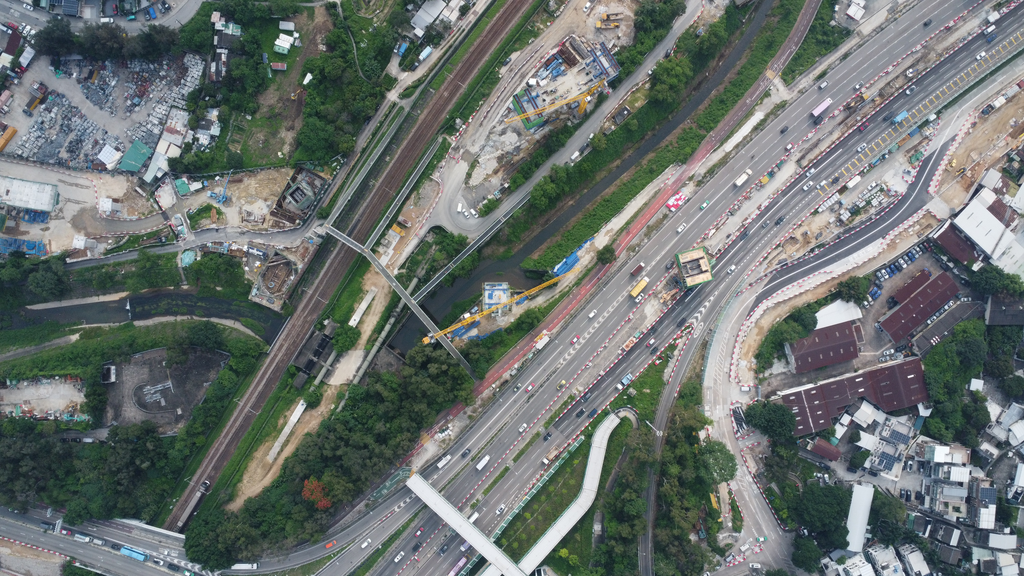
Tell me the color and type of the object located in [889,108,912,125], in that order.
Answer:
blue vehicle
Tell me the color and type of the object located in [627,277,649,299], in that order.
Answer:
yellow truck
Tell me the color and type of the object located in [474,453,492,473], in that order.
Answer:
white vehicle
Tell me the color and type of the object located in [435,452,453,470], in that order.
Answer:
white vehicle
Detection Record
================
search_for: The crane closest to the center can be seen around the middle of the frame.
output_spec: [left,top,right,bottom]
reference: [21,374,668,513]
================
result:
[423,268,580,346]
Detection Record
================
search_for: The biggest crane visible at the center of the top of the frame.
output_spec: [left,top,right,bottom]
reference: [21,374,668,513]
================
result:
[504,80,607,123]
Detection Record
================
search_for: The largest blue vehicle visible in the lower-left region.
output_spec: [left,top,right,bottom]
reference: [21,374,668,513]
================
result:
[118,546,151,563]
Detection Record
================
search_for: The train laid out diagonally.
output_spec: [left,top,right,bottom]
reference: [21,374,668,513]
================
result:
[170,482,210,539]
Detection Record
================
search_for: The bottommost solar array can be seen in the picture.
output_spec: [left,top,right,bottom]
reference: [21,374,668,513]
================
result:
[980,488,998,505]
